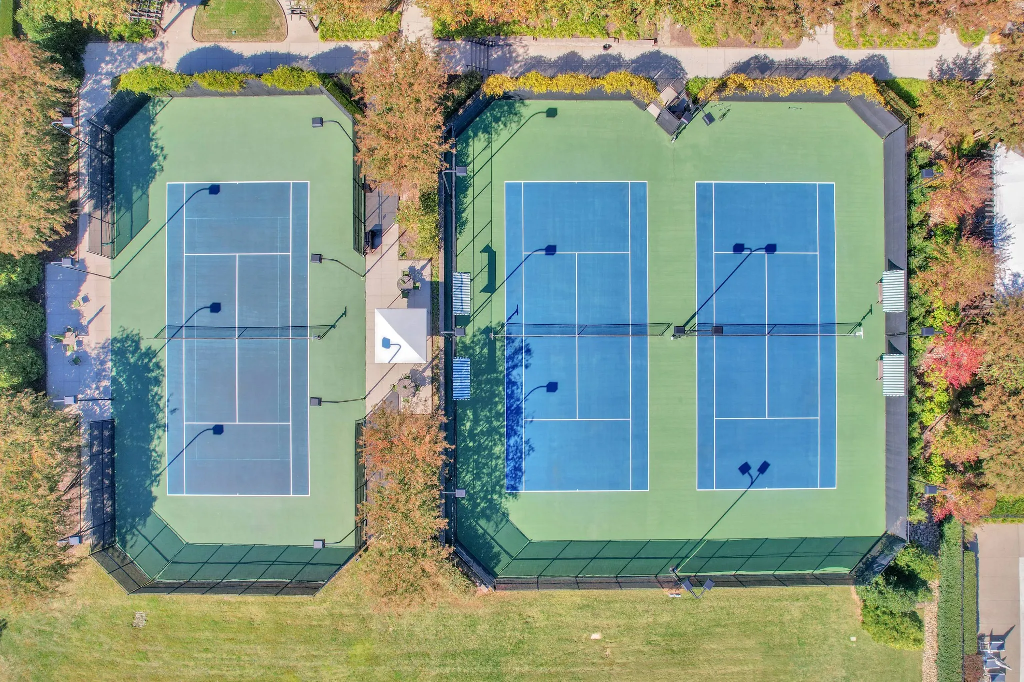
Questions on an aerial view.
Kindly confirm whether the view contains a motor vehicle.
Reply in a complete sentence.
No, this view has no motor vehicle in it.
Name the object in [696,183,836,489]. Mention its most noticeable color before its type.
blue tennis court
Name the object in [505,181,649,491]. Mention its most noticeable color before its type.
blue tennis court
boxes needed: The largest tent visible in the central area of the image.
[375,308,431,363]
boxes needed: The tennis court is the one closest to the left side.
[110,95,366,581]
